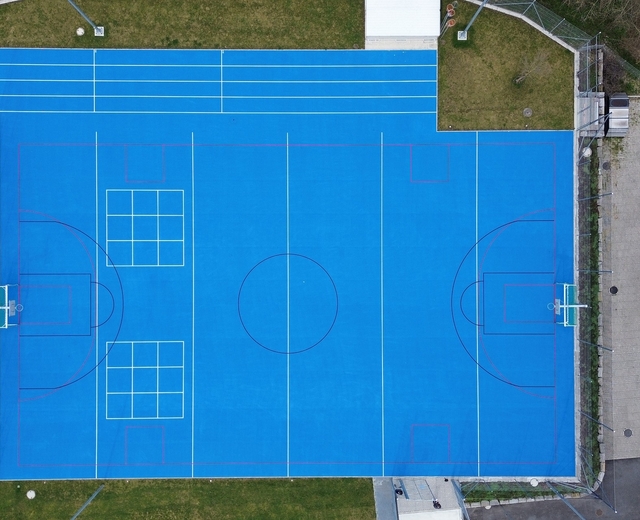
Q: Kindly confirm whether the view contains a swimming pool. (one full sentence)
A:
No, I can see no swimming pool in this picture.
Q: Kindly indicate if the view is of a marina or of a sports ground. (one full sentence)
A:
The area seen from above is a sports ground.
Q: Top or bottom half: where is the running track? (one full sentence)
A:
The top half of the photo is where the running track is.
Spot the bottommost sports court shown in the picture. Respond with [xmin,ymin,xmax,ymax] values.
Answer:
[0,115,575,480]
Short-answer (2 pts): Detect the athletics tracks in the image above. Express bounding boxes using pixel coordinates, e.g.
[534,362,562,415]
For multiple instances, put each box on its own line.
[0,49,438,115]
